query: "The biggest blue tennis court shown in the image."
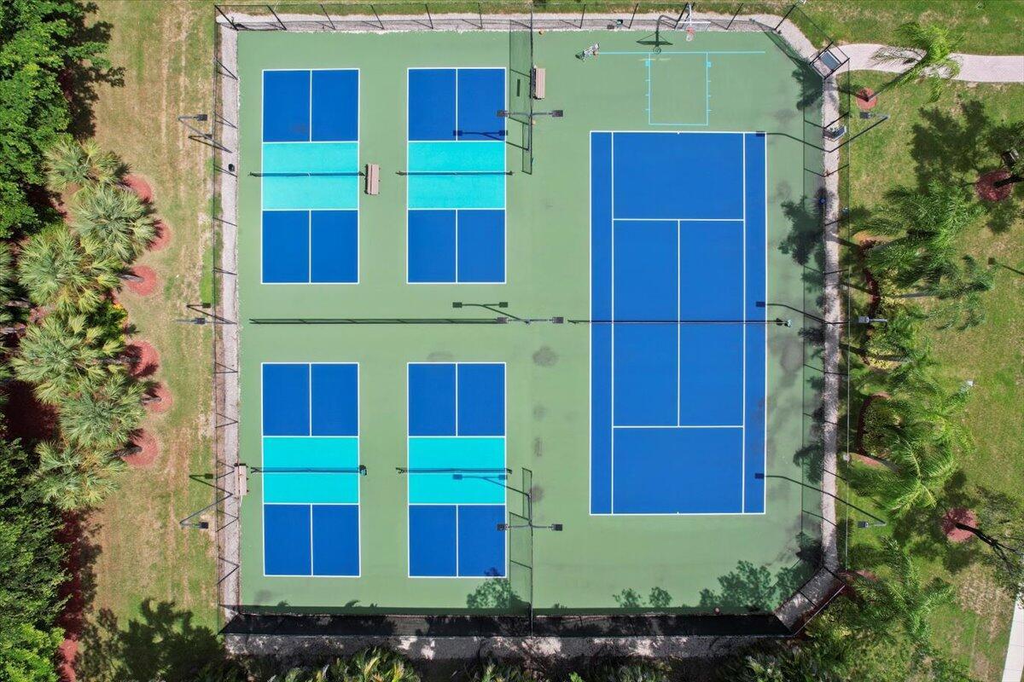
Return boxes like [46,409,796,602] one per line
[589,130,767,516]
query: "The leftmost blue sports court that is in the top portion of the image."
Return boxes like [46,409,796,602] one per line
[261,68,360,284]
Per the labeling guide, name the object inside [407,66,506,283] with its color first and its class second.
blue sports court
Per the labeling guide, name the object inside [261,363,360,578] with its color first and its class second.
blue sports court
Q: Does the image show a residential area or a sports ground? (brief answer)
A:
sports ground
